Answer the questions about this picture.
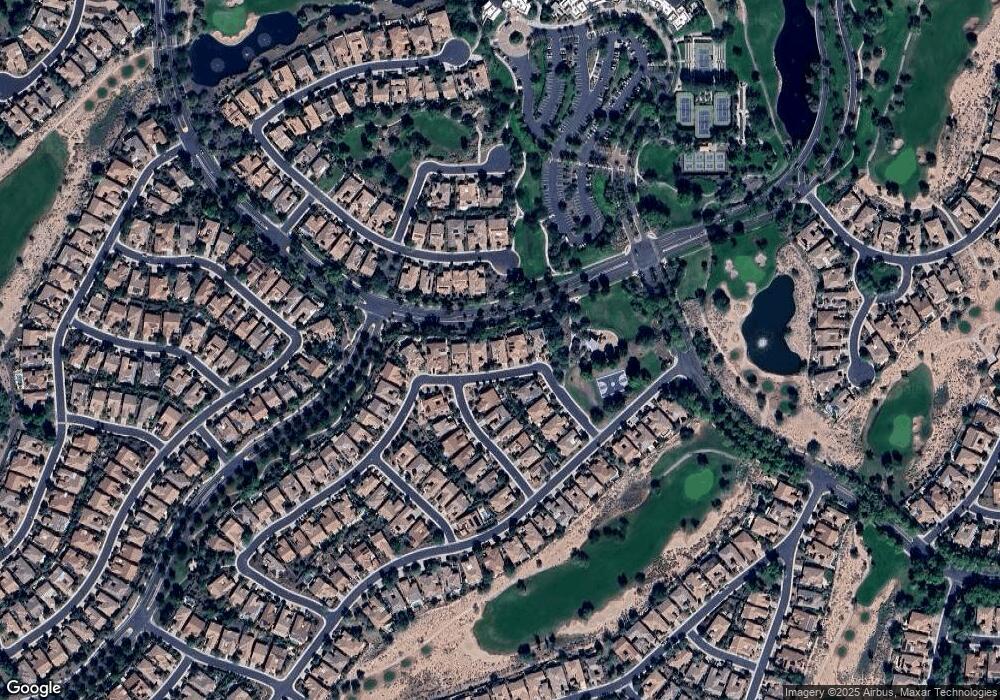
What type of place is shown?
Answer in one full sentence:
It's a residential area.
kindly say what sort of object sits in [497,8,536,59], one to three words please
roundabout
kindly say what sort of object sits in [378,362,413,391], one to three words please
house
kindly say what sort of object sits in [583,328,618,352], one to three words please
playground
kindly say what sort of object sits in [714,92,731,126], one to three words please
tennis court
